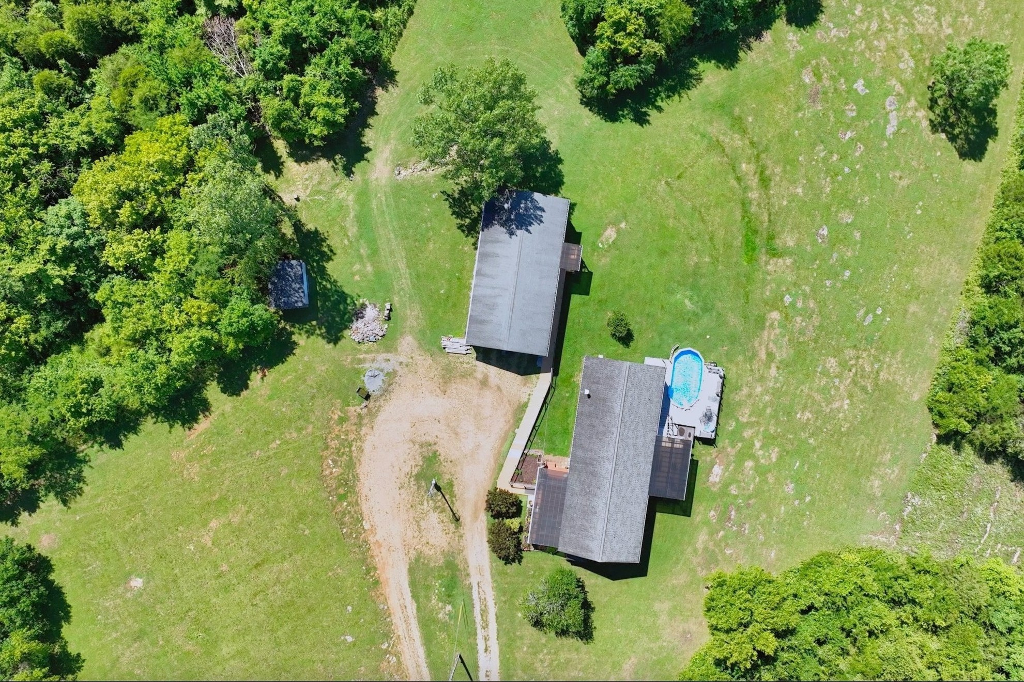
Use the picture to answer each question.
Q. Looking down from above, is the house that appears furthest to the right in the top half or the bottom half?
bottom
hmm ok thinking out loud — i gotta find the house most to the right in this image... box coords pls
[527,356,693,563]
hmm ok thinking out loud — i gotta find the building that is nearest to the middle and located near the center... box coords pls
[464,189,583,356]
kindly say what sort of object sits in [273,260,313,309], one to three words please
shed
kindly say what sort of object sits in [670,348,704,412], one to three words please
swimming pool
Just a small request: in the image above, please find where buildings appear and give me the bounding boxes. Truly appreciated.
[273,260,313,309]
[464,189,583,356]
[527,356,693,563]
